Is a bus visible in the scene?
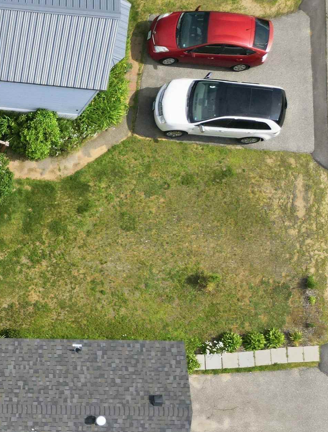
No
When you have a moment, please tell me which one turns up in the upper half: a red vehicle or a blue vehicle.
red vehicle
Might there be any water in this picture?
No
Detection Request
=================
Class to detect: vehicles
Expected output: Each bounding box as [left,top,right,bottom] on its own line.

[149,68,288,144]
[143,1,276,73]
